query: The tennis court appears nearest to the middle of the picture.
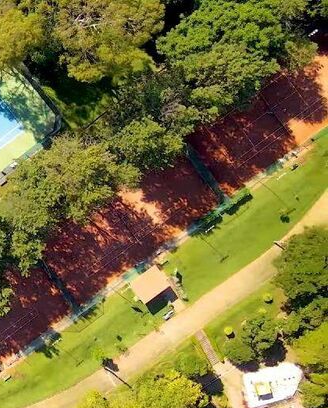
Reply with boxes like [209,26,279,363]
[34,137,223,306]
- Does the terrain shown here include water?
No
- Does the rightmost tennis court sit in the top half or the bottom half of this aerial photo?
top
